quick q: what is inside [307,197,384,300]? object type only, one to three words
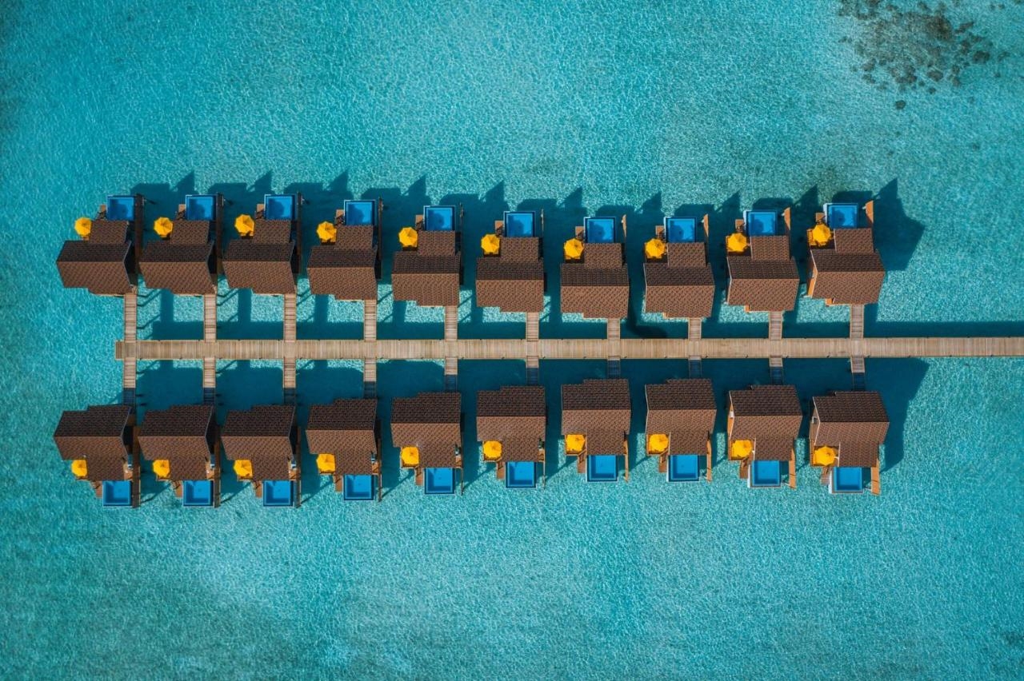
house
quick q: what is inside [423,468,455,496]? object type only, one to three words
swimming pool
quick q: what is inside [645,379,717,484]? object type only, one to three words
house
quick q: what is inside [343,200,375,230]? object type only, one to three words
swimming pool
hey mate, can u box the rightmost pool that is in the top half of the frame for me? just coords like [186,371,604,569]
[824,204,859,234]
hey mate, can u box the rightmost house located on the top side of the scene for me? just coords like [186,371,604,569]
[807,201,885,305]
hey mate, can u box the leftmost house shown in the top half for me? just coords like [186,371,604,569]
[56,191,149,295]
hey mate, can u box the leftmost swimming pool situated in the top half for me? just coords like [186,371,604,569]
[105,195,137,224]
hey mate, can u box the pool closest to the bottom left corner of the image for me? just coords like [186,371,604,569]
[99,478,131,508]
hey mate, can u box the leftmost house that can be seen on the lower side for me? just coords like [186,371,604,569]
[53,405,144,511]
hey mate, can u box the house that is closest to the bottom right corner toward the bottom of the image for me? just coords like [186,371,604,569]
[810,391,889,497]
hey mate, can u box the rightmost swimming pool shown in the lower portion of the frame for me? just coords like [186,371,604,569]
[830,464,865,495]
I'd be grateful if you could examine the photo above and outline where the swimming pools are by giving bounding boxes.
[424,206,455,231]
[341,471,374,502]
[586,455,618,483]
[749,458,782,489]
[505,461,536,489]
[667,452,700,483]
[824,204,859,234]
[180,478,213,508]
[504,212,534,238]
[263,194,296,224]
[260,478,294,508]
[423,468,455,496]
[99,478,131,508]
[664,218,697,246]
[105,195,137,224]
[343,200,375,230]
[183,195,216,224]
[830,464,865,495]
[745,211,778,238]
[584,218,615,243]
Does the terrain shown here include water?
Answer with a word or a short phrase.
Yes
